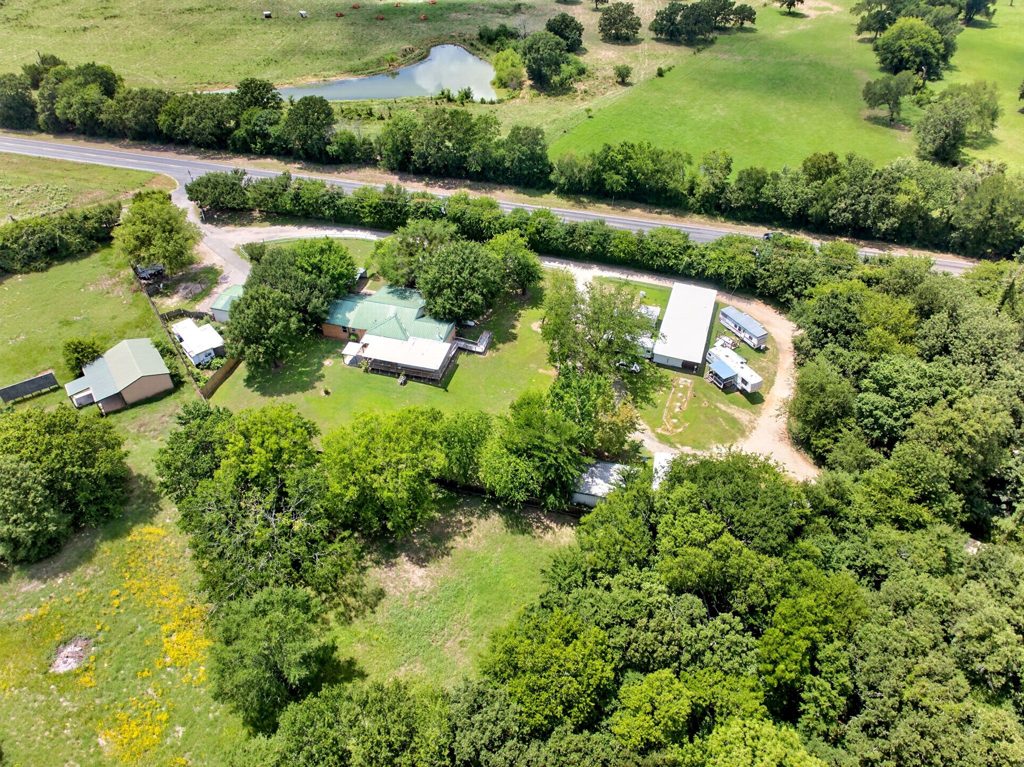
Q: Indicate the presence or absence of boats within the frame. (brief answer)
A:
No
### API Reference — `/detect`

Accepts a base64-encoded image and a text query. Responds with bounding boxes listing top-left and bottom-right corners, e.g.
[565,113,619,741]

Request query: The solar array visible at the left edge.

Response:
[0,369,62,403]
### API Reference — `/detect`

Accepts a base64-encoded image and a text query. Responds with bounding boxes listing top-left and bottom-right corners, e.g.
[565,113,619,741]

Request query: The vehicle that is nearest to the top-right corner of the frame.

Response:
[762,233,791,246]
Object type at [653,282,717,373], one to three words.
shed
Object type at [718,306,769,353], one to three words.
vehicle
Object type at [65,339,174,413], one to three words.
barn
